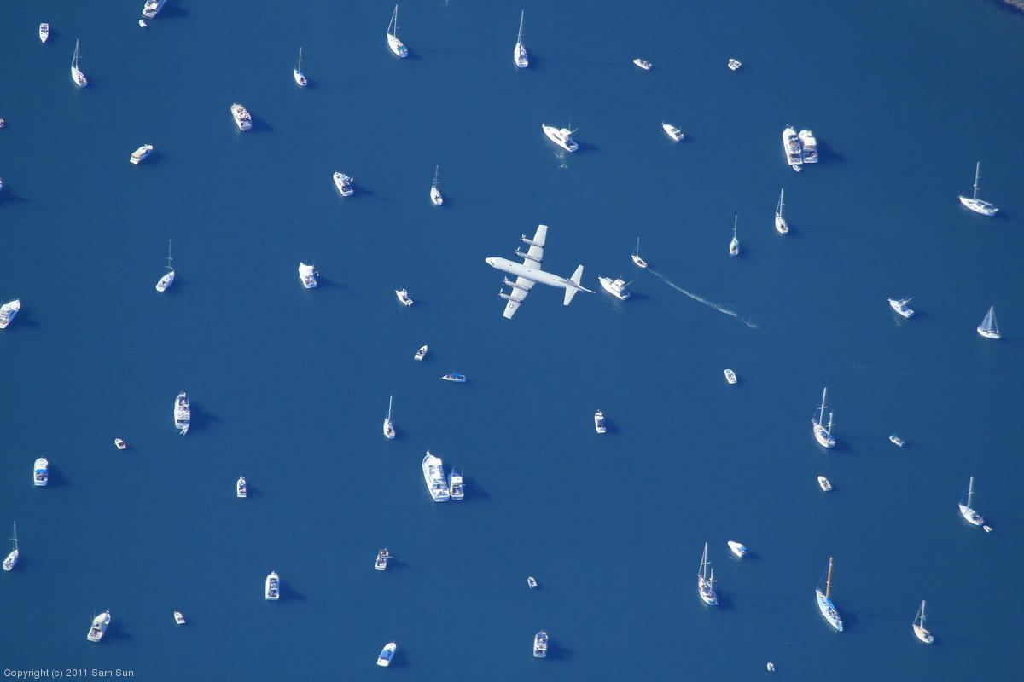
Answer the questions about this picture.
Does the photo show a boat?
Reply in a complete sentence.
Yes, a boat appears in the view.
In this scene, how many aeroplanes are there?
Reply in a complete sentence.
In total, 1 aeroplane can be seen.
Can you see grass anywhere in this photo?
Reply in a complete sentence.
No, the picture contains no grass.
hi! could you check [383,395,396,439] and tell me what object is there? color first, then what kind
white boat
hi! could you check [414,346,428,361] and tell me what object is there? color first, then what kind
white boat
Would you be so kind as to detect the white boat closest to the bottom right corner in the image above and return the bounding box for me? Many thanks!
[913,600,934,642]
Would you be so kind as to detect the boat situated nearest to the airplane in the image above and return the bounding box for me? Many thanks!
[598,275,631,301]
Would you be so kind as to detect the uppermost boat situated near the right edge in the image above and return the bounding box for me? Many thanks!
[960,162,997,214]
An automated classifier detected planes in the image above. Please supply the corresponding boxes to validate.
[486,224,596,318]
